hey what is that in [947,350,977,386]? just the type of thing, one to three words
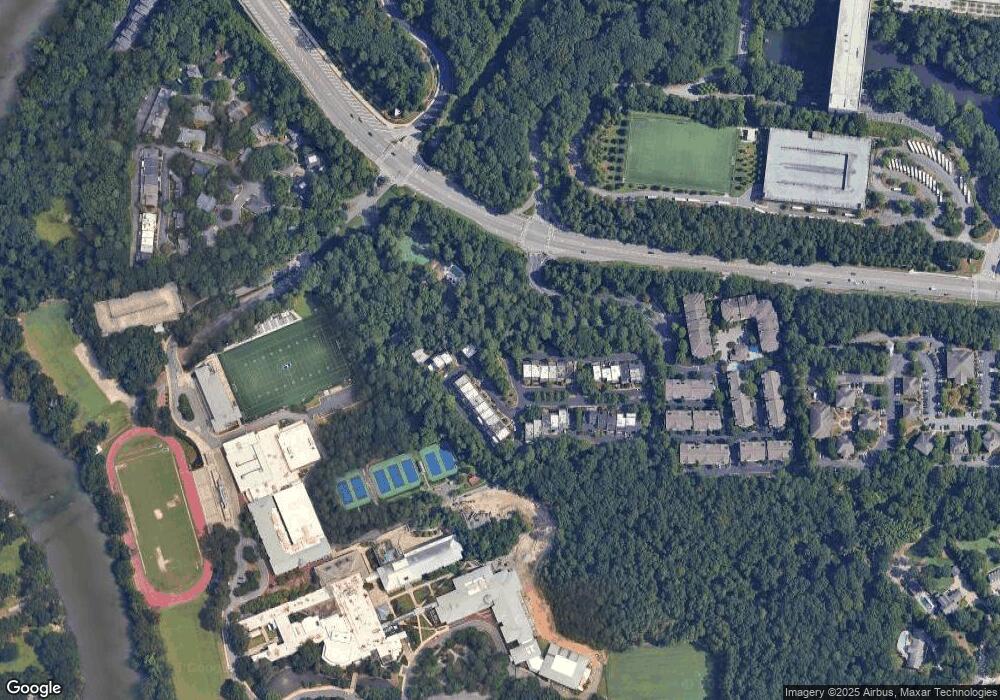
building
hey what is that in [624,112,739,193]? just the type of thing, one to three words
soccer field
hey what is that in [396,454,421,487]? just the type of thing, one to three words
tennis court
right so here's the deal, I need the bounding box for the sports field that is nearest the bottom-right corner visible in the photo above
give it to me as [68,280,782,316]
[604,642,711,700]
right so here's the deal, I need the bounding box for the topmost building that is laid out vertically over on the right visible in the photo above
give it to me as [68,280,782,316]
[829,0,872,110]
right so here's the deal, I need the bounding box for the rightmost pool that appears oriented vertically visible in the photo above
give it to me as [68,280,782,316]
[897,631,911,660]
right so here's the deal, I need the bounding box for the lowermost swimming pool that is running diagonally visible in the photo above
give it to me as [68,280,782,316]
[918,593,935,614]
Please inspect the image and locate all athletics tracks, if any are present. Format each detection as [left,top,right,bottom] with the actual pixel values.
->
[107,422,212,603]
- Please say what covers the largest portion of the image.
trees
